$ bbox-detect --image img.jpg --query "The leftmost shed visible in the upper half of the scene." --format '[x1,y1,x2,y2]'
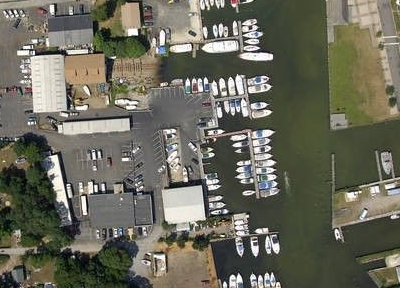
[32,55,66,112]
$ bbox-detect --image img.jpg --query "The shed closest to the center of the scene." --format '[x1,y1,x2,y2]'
[161,185,205,223]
